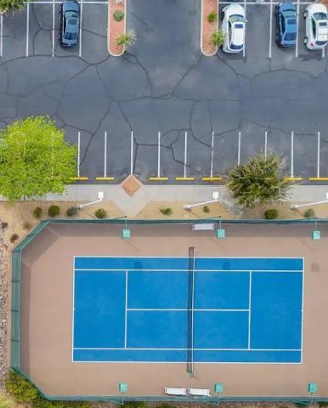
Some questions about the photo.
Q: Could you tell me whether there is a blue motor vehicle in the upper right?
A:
Yes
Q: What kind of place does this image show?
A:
sports ground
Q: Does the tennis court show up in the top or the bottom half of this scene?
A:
bottom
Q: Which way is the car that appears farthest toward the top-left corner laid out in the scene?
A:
from top to bottom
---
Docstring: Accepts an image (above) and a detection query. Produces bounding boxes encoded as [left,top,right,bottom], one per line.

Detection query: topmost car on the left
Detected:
[58,1,81,49]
